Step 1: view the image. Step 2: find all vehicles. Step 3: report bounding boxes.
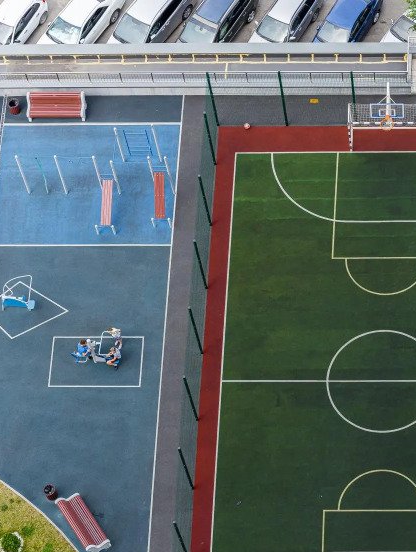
[309,0,390,43]
[0,0,58,43]
[109,0,193,43]
[174,0,258,43]
[375,0,416,46]
[248,0,331,43]
[40,0,126,43]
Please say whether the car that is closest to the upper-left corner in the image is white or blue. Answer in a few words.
white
